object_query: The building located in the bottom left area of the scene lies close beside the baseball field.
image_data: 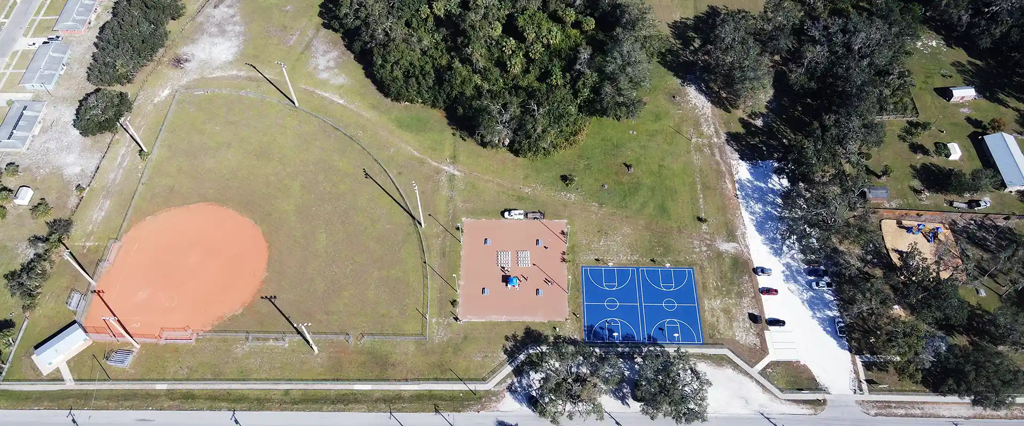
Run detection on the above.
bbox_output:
[31,320,92,376]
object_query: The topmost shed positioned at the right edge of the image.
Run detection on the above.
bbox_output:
[948,89,979,105]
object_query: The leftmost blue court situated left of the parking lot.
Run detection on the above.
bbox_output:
[583,267,646,345]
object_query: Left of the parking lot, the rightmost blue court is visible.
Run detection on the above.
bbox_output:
[640,268,706,346]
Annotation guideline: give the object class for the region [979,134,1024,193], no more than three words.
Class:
barn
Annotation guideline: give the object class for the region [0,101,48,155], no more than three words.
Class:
house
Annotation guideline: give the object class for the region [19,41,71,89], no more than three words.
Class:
house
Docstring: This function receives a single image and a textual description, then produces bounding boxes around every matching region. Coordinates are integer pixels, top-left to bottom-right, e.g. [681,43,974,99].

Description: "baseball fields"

[84,91,427,343]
